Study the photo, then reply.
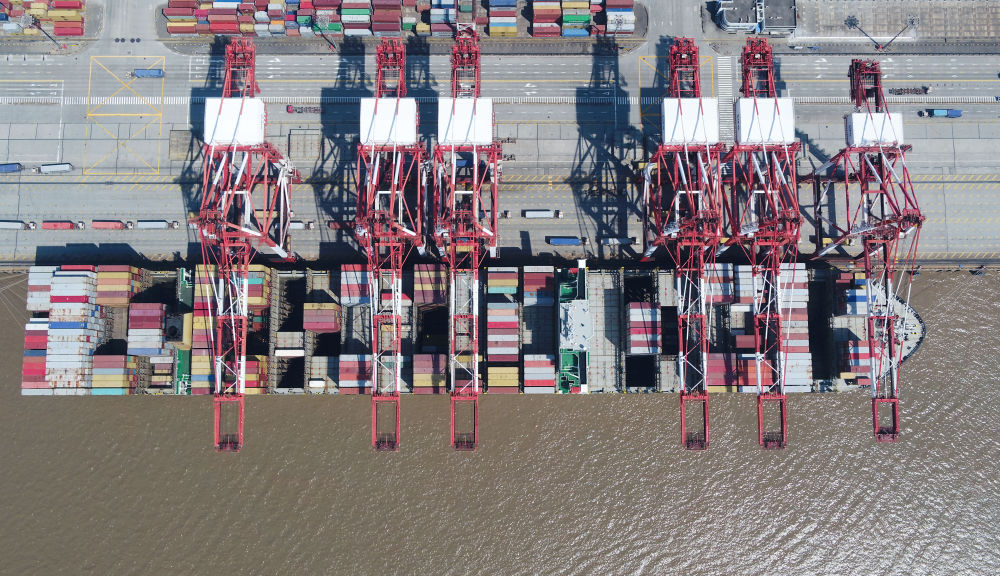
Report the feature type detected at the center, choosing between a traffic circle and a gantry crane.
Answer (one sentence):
The feature located at the center is a gantry crane.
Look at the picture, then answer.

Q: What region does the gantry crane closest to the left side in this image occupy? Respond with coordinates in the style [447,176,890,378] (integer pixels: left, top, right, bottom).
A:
[197,34,306,454]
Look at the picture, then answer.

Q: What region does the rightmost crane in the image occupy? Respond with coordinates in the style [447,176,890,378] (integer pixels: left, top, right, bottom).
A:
[791,56,929,444]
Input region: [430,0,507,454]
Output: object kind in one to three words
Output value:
container crane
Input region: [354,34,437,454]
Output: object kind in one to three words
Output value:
container crane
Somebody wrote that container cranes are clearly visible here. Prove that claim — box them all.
[354,34,437,454]
[430,0,507,454]
[630,34,731,454]
[197,34,306,454]
[791,56,929,444]
[699,34,807,454]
